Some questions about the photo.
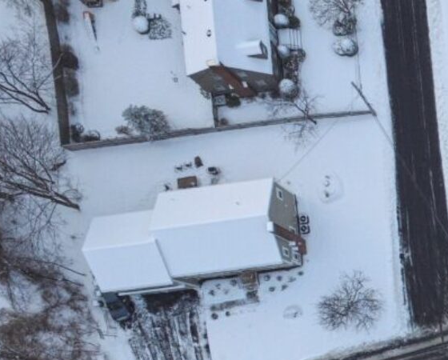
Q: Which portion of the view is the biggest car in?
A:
bottom left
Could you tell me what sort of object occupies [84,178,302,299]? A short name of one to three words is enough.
house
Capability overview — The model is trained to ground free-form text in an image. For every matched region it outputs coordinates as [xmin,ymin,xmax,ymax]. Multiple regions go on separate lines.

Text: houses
[84,178,302,299]
[182,0,312,107]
